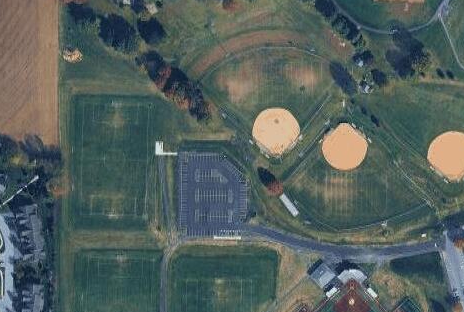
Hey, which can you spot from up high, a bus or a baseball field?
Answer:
baseball field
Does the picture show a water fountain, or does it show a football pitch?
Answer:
football pitch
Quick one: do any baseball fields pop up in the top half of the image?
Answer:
Yes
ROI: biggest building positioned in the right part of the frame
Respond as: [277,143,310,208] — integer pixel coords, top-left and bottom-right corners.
[312,263,337,289]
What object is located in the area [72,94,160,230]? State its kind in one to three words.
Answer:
soccer field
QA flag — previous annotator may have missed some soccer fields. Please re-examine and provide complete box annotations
[72,94,160,230]
[74,250,163,312]
[170,252,278,312]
